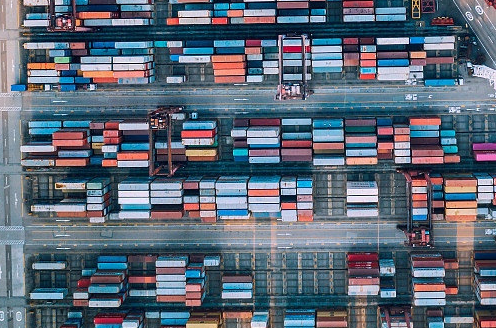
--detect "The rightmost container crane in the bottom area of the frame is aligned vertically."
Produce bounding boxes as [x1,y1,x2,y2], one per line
[396,163,435,244]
